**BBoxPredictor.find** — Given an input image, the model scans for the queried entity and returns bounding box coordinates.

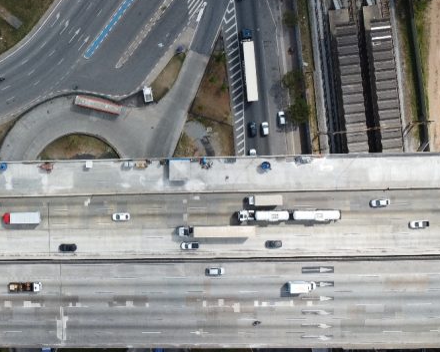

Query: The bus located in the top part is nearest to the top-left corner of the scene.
[72,96,124,118]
